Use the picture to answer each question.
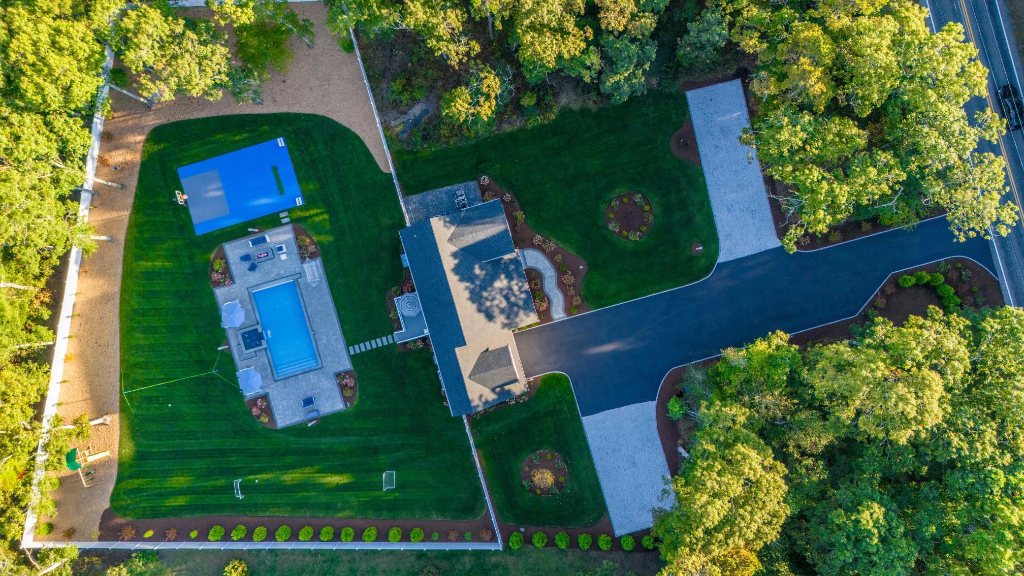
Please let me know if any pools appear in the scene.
Yes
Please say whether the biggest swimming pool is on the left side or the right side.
left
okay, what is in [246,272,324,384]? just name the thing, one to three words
swimming pool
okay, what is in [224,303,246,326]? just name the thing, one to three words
umbrella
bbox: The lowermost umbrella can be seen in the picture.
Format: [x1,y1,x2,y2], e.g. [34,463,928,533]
[241,369,264,391]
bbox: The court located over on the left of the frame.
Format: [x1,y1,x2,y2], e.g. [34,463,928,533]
[177,137,304,235]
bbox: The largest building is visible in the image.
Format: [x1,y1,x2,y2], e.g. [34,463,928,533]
[398,196,537,416]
